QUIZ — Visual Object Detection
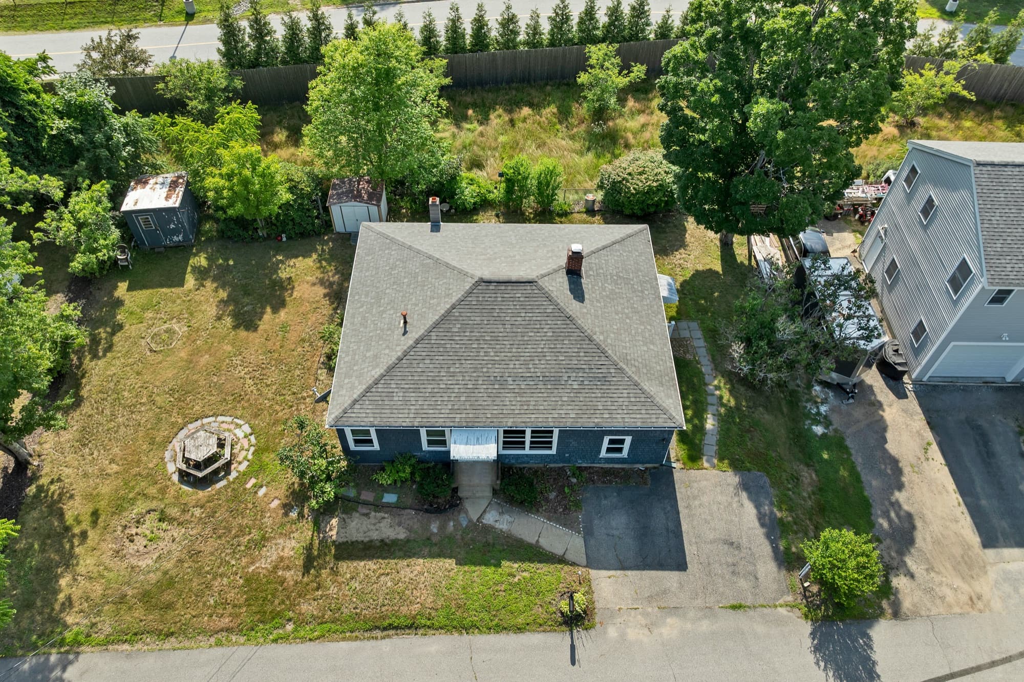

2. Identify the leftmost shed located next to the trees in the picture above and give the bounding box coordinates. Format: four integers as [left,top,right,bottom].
[120,162,203,246]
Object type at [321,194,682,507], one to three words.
house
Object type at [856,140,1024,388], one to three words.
house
